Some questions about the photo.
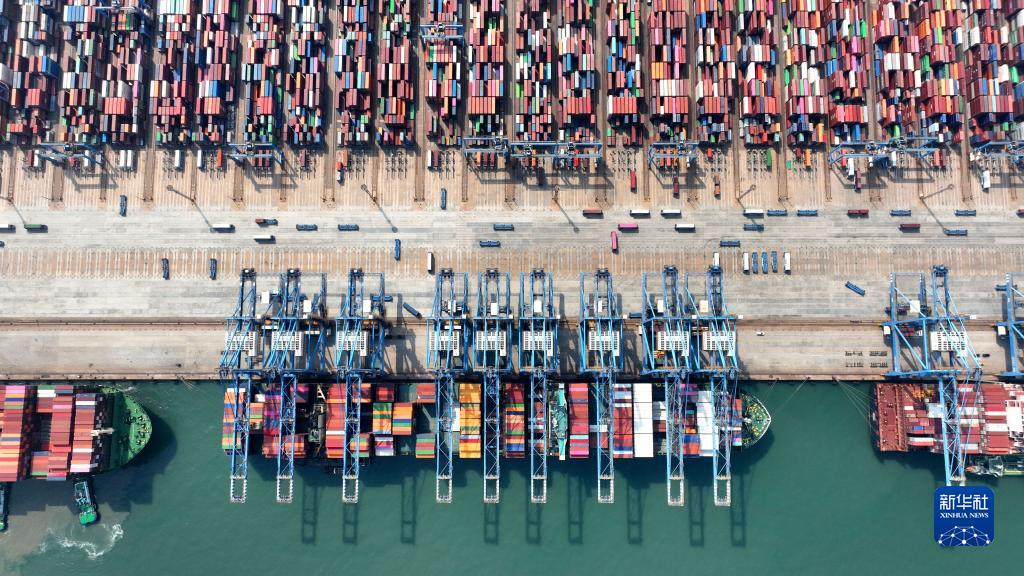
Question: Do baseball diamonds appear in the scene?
No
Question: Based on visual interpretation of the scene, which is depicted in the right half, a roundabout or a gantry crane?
gantry crane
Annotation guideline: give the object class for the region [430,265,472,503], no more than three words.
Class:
container crane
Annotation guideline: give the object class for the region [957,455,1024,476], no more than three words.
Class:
vessel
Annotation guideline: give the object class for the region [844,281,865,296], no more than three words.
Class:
vehicle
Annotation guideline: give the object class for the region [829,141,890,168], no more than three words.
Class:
container crane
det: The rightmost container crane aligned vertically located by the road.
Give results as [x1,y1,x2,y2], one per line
[993,272,1024,377]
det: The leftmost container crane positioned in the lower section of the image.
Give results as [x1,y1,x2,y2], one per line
[216,265,293,503]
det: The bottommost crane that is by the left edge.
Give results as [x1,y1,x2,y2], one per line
[40,141,106,168]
